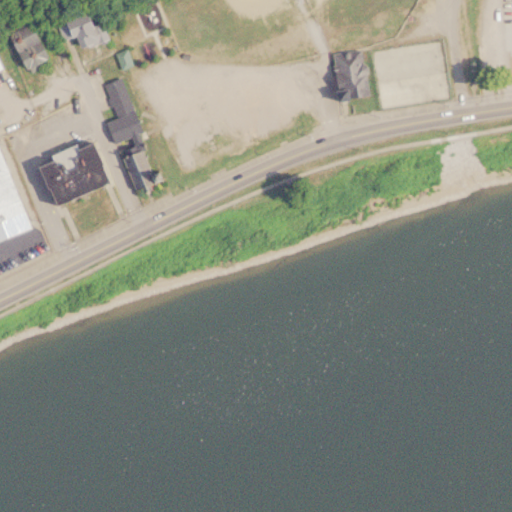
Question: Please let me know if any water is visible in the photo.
Yes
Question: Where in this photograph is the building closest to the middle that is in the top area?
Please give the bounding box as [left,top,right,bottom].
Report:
[124,152,162,188]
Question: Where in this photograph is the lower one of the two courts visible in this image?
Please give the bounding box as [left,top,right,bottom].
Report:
[376,73,448,109]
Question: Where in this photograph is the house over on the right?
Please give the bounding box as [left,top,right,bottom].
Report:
[333,48,372,100]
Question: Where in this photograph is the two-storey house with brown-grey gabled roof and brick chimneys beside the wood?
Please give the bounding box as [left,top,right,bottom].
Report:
[12,25,46,71]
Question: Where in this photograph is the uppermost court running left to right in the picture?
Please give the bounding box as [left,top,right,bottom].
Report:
[373,42,444,83]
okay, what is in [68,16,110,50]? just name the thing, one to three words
house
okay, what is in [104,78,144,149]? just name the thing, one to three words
building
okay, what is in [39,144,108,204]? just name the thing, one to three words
building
